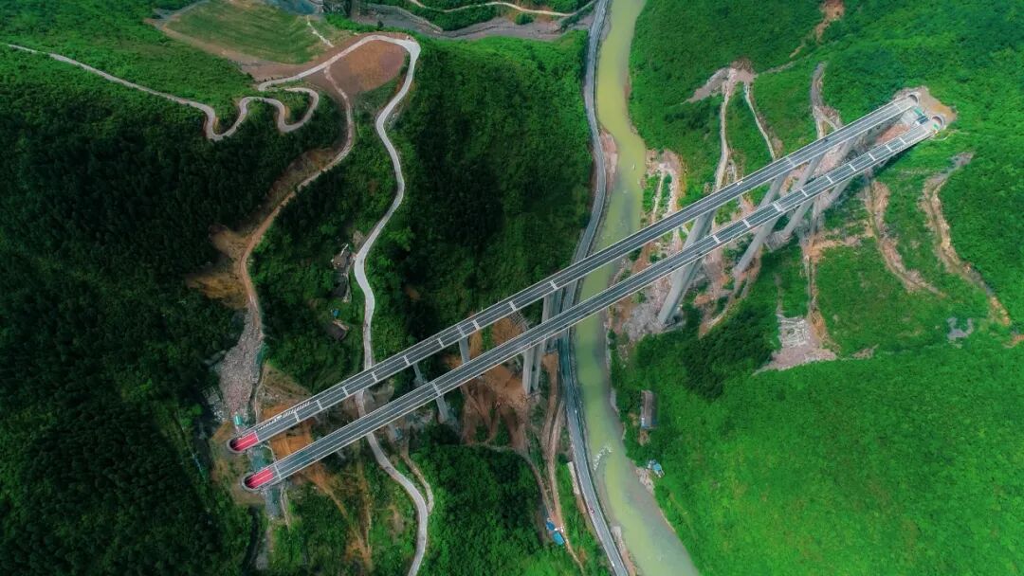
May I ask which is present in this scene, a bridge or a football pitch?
bridge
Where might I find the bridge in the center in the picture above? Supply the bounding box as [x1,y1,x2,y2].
[249,117,944,490]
